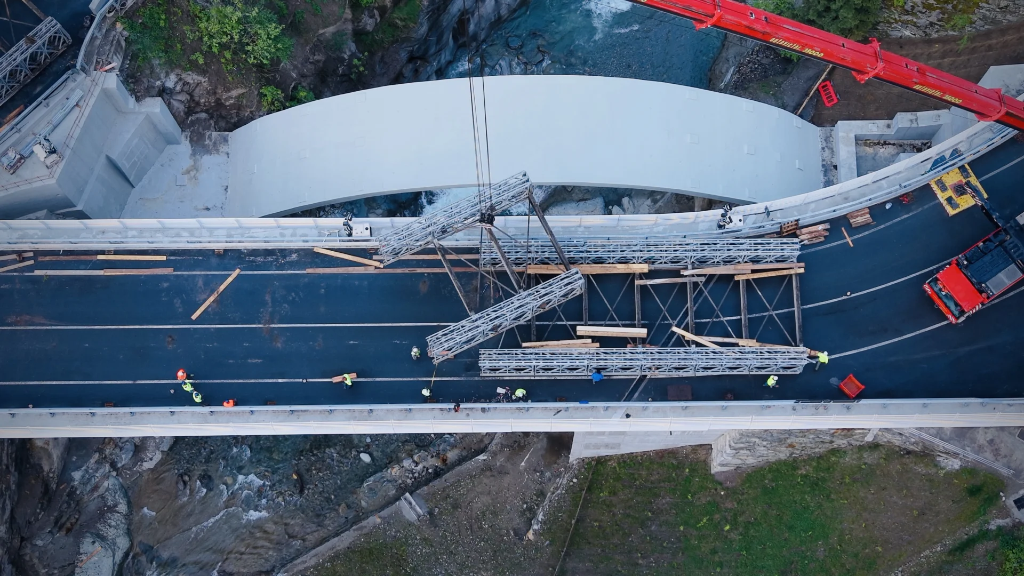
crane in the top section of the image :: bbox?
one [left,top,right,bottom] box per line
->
[547,0,1024,324]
